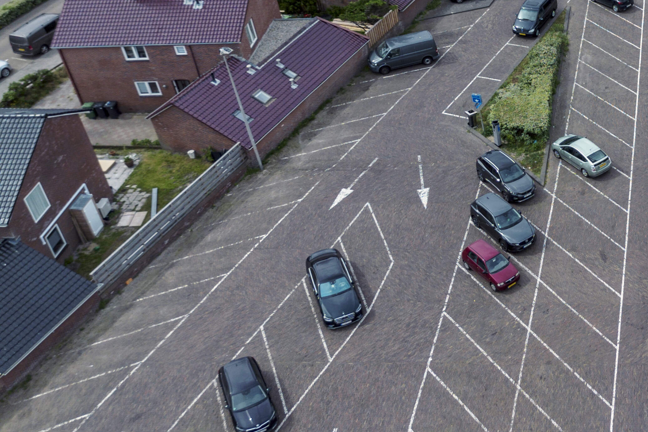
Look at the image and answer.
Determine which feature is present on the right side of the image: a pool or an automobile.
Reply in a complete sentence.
The one visible on the right side of the image is an automobile.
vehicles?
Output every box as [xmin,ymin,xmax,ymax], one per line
[370,31,438,74]
[511,0,558,38]
[218,352,274,432]
[11,18,59,58]
[302,250,359,329]
[473,149,534,203]
[460,239,518,291]
[549,134,612,178]
[466,193,533,252]
[590,0,636,12]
